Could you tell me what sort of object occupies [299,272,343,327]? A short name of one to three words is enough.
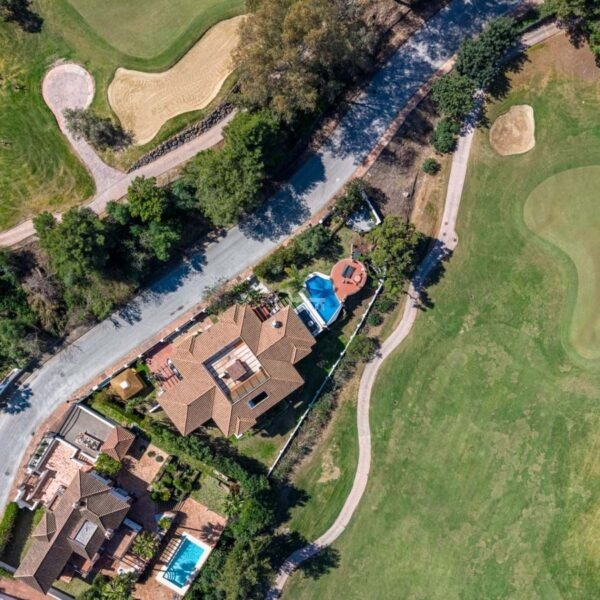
swimming pool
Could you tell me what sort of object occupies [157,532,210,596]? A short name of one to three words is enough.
swimming pool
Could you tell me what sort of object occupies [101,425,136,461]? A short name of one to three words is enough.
shed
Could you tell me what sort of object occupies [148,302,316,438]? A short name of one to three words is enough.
house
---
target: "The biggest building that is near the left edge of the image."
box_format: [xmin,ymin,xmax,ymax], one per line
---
[13,466,133,596]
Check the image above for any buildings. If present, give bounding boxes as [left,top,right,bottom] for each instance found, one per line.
[148,302,316,438]
[101,425,136,461]
[111,367,146,400]
[13,466,133,596]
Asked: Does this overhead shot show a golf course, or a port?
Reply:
golf course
